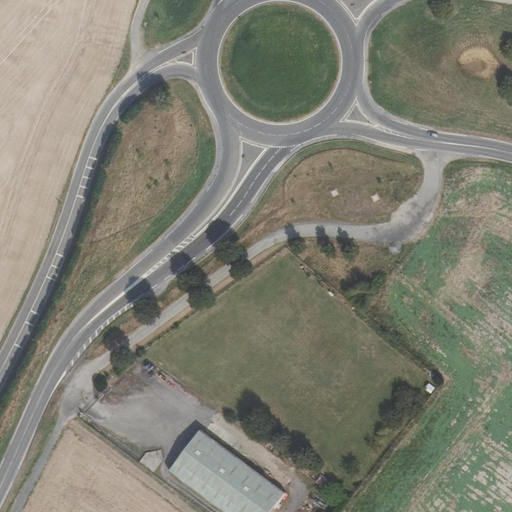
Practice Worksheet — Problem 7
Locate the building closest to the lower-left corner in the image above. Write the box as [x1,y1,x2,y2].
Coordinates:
[170,430,285,512]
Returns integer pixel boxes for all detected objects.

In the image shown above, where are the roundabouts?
[148,0,395,236]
